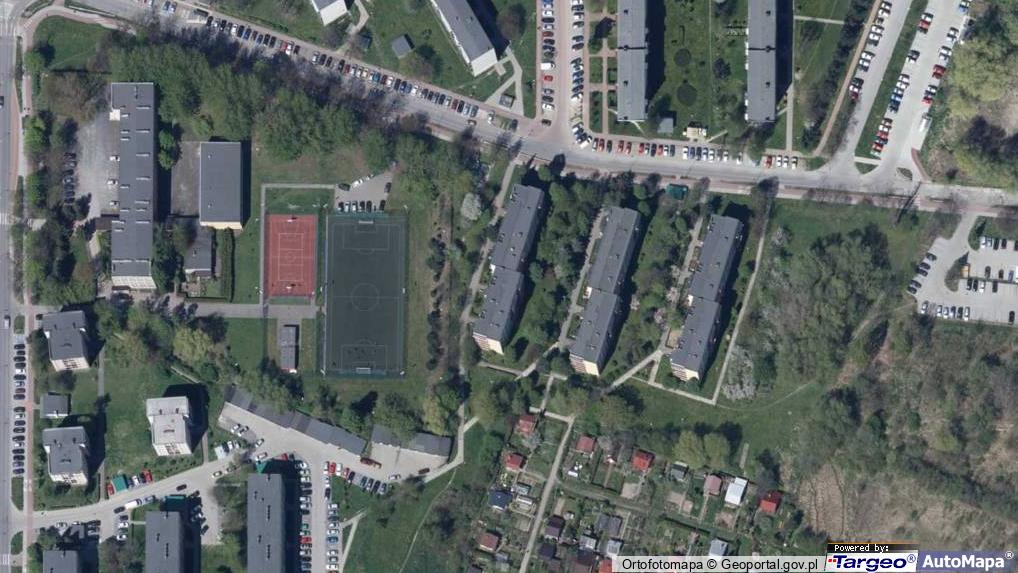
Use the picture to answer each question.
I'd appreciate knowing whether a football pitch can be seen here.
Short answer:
Yes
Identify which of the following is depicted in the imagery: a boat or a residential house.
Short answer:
residential house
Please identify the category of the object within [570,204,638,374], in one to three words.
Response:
building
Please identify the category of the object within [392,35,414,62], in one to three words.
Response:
shed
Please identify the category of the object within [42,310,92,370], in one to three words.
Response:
building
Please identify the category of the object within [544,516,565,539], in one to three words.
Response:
house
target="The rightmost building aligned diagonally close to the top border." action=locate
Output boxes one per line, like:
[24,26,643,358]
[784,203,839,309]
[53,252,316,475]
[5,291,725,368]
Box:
[427,0,496,77]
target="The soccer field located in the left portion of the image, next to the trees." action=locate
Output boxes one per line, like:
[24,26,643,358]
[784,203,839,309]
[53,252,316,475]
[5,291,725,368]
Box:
[324,213,407,377]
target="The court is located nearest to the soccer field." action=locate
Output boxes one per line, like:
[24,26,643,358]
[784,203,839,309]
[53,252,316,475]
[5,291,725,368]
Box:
[265,214,319,303]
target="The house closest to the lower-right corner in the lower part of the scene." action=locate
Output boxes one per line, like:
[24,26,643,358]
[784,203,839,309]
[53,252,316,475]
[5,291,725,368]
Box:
[760,492,780,514]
